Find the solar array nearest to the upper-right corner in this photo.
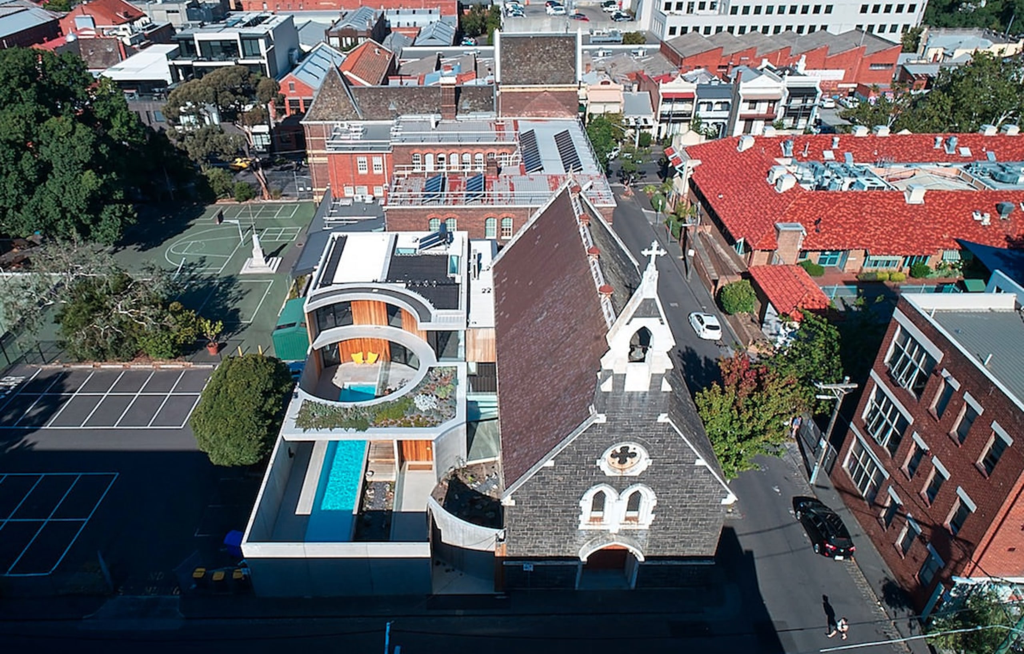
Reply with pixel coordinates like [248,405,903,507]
[554,129,583,172]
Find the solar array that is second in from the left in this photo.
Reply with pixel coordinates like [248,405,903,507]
[466,175,484,203]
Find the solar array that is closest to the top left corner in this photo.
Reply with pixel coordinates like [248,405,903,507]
[425,175,443,203]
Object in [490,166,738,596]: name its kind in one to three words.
church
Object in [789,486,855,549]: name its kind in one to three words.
car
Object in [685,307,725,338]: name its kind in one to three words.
car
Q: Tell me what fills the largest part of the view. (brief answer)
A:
buildings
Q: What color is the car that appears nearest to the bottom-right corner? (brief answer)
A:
black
